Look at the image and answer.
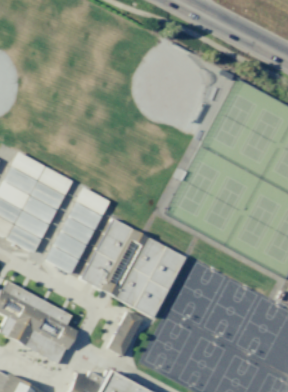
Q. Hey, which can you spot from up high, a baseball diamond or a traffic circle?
baseball diamond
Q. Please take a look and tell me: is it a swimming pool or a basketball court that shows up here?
basketball court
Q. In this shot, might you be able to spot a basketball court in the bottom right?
Yes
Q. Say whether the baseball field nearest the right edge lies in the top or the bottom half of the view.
top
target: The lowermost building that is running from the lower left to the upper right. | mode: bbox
[108,312,144,356]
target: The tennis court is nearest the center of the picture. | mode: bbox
[177,164,220,216]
